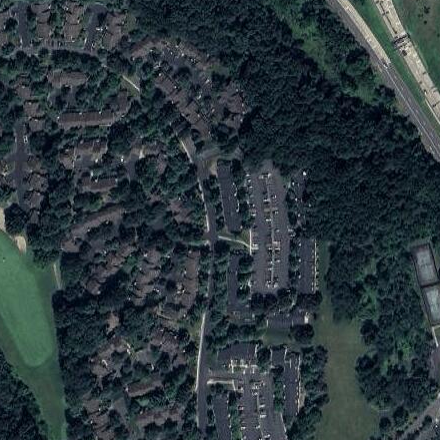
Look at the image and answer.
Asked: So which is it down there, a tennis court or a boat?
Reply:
tennis court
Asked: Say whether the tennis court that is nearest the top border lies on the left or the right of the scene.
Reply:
right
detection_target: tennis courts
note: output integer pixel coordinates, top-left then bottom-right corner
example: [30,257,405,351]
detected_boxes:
[421,282,440,327]
[412,244,439,287]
